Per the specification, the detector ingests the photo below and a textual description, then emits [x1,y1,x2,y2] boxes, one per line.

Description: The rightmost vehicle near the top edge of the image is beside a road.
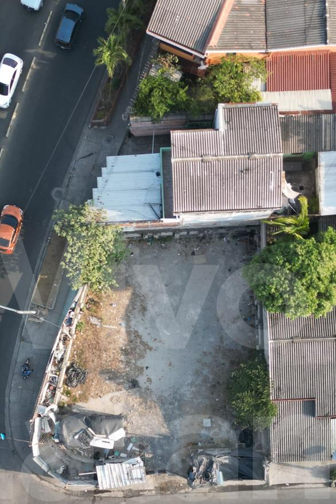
[53,2,83,52]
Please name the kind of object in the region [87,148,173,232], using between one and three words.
building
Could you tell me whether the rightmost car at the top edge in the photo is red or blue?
blue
